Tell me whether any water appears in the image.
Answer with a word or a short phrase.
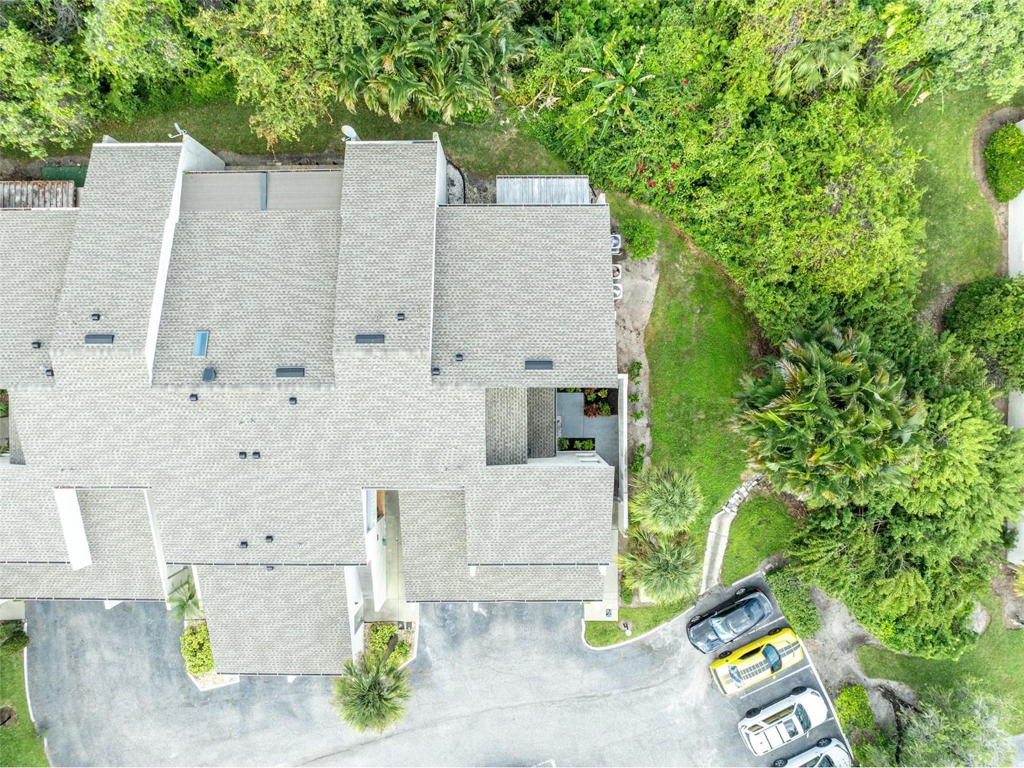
No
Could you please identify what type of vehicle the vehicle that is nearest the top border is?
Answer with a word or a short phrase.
car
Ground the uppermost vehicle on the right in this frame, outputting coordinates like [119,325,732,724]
[687,588,777,656]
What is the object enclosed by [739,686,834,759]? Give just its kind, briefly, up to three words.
car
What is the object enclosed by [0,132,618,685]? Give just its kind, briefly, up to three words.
building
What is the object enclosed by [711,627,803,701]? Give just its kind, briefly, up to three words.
car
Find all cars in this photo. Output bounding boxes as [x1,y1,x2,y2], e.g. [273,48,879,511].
[772,737,860,768]
[739,686,834,759]
[711,627,803,701]
[687,588,777,656]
